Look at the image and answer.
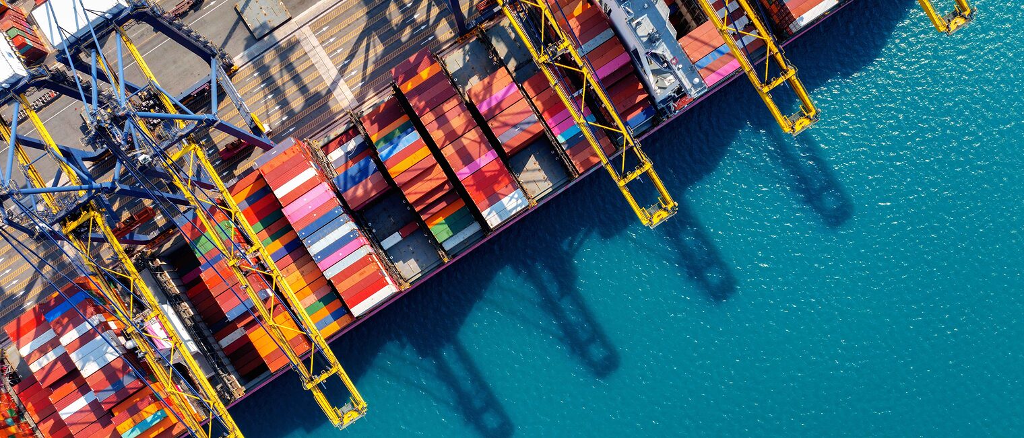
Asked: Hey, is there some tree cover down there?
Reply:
No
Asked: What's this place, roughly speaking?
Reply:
port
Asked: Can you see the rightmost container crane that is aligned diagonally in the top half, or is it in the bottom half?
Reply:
top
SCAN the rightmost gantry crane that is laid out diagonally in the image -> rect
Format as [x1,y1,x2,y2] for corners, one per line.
[696,0,823,140]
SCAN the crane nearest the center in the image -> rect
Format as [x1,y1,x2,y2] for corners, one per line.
[448,0,682,232]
